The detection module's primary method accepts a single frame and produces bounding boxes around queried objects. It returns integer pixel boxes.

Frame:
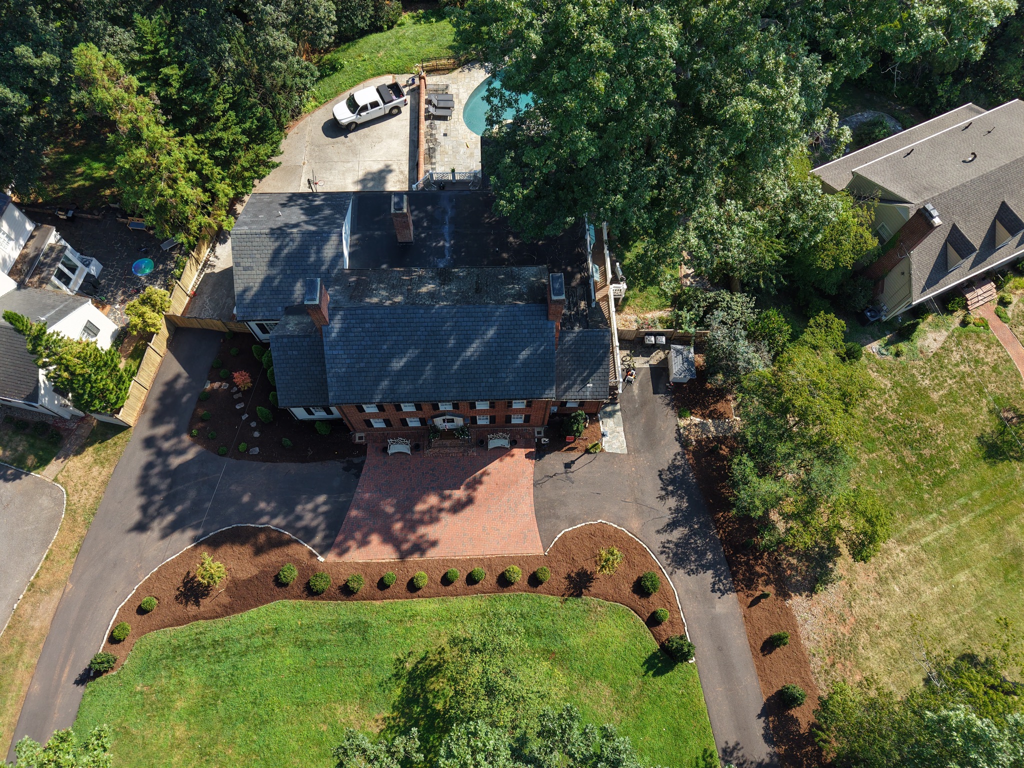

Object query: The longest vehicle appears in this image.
[328,83,410,131]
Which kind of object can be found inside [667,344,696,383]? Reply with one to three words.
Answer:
shed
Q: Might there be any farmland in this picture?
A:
No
